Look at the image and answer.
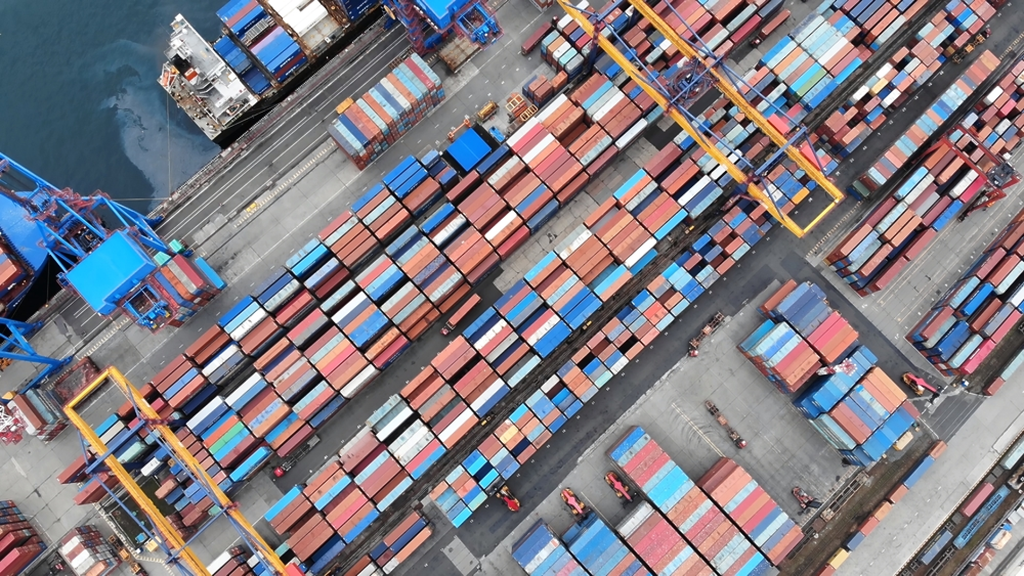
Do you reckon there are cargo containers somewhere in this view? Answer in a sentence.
Yes, this view includes a cargo container.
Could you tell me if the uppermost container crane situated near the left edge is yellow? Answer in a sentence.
No, the uppermost container crane situated near the left edge is blue.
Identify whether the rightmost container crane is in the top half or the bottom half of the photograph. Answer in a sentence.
The rightmost container crane is in the top half of the image.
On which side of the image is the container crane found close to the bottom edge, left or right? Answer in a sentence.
It is on the left.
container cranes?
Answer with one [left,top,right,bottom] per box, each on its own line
[548,0,849,245]
[0,312,81,417]
[61,357,330,576]
[0,148,206,354]
[906,122,1024,221]
[382,0,521,68]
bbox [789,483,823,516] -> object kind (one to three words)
work vehicle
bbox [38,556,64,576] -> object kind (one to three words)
vehicle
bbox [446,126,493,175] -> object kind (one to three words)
shed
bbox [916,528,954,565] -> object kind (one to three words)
shipping container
